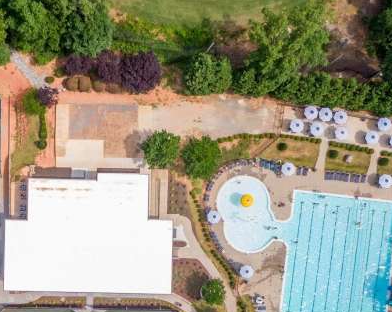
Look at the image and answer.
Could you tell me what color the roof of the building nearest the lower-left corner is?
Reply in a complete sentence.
The roof of the building nearest the lower-left corner is white.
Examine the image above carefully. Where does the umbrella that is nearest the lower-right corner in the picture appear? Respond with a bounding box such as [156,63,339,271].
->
[376,174,390,188]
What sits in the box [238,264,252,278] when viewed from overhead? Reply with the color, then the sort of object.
white umbrella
